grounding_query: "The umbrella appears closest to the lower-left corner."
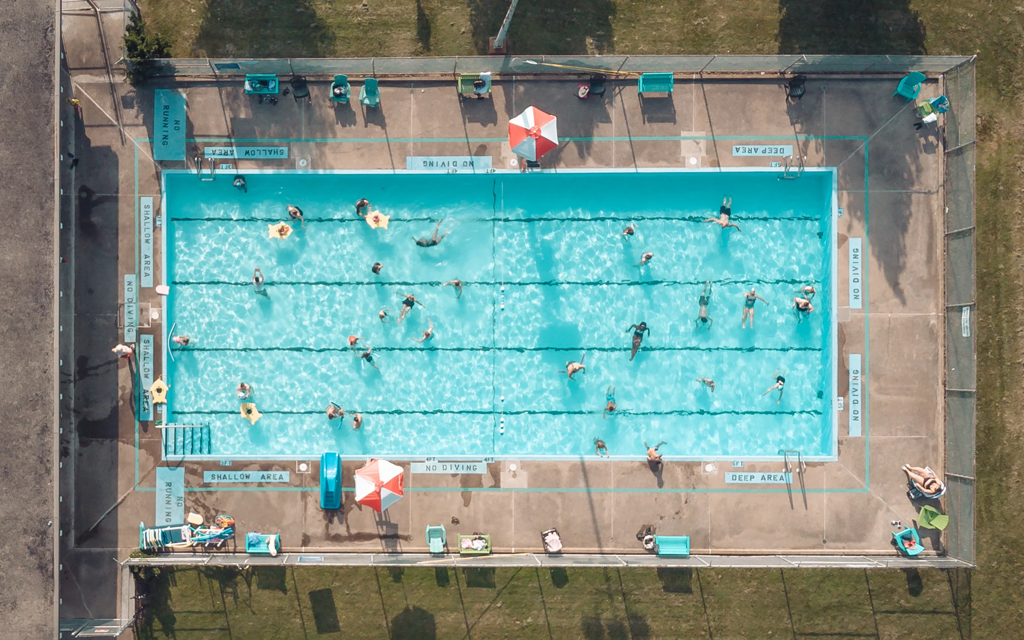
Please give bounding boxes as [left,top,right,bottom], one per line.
[356,457,404,512]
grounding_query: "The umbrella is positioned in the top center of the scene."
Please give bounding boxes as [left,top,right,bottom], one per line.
[510,108,559,163]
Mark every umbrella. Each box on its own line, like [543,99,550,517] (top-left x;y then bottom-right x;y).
[356,457,404,512]
[510,108,559,163]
